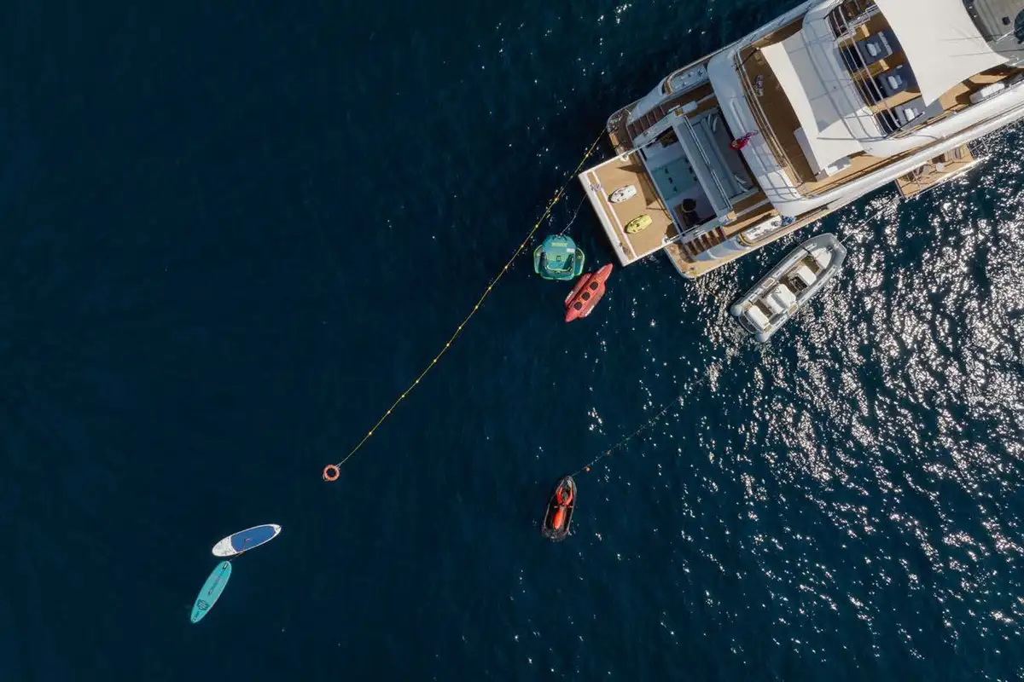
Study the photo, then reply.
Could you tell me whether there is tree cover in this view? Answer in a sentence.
No, the scene doesn't show any tree cover.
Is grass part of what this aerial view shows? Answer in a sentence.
No, there's no grass in this view.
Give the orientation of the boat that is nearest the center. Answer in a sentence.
The boat that is nearest the center is oriented at an angle.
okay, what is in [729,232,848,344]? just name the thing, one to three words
boat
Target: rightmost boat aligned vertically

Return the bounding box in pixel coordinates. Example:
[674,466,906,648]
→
[543,475,576,540]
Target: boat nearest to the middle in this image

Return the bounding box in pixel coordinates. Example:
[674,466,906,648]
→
[563,264,614,322]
